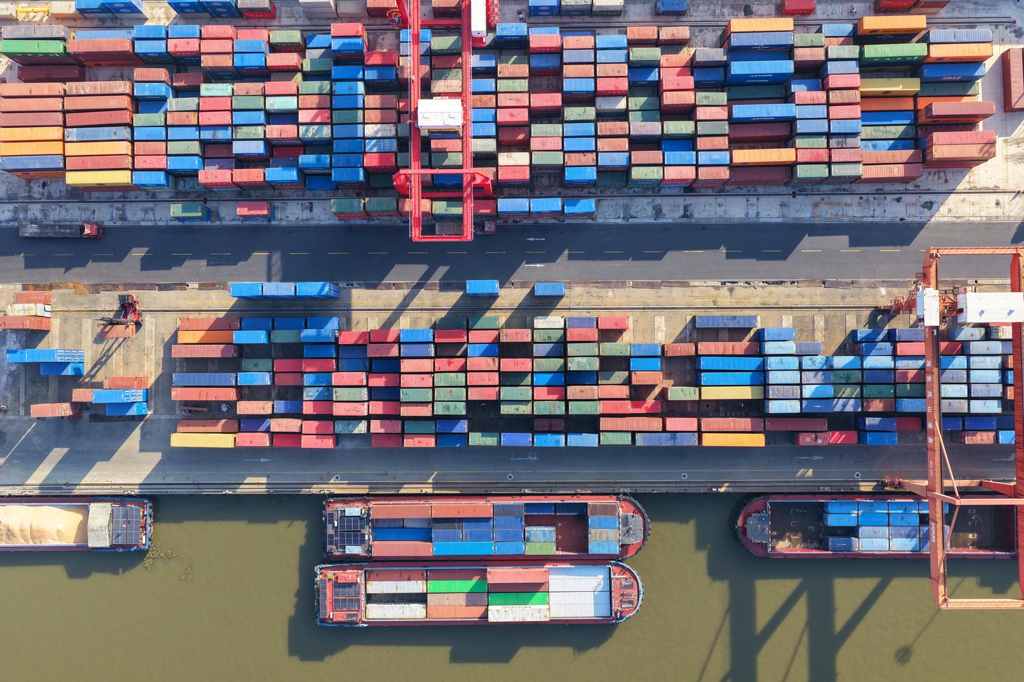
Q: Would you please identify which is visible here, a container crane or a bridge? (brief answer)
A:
container crane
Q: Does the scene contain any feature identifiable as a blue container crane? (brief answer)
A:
No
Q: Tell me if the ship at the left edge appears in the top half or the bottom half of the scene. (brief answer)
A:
bottom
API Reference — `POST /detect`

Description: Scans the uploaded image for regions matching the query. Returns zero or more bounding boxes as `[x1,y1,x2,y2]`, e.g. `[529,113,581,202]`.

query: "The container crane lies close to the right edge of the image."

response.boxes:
[875,245,1024,609]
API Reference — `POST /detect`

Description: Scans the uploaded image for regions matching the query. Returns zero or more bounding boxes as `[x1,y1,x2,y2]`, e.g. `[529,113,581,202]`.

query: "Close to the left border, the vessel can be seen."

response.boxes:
[0,499,156,552]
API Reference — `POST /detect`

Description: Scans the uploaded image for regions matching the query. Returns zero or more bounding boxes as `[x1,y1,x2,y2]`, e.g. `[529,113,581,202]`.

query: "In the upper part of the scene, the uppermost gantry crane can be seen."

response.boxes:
[388,0,499,242]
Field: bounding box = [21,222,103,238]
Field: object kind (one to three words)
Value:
vehicle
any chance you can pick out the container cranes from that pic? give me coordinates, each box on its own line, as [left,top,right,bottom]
[388,0,499,242]
[875,245,1024,609]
